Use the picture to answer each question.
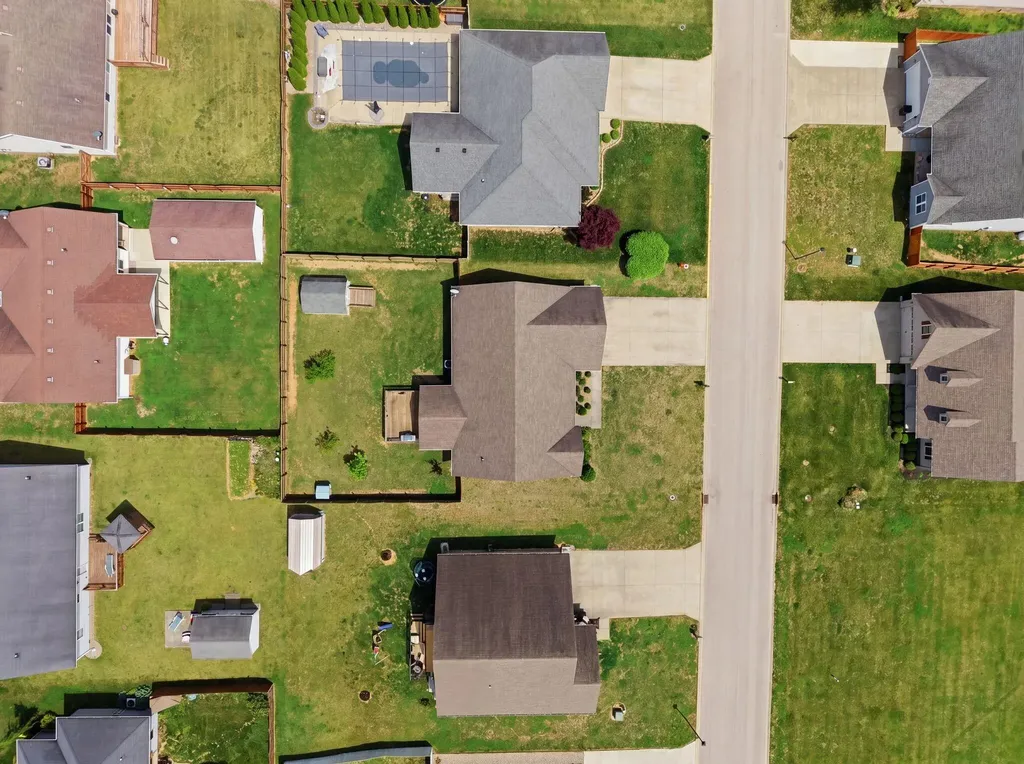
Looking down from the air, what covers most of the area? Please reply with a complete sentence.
Most of the picture is covered by grass.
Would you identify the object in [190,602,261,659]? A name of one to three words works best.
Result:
shed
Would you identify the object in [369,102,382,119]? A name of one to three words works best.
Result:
umbrella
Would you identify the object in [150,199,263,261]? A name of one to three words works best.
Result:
building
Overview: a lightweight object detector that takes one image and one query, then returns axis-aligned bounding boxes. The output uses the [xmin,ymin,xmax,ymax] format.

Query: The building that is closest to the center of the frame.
[418,282,607,482]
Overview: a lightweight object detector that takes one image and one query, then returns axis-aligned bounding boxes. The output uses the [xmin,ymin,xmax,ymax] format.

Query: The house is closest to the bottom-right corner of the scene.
[894,290,1024,482]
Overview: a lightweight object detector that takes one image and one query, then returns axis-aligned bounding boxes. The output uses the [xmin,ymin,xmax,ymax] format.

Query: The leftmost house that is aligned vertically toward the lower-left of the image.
[0,462,96,677]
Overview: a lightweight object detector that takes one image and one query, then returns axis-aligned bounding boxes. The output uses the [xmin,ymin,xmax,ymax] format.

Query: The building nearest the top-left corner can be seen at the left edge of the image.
[0,0,122,147]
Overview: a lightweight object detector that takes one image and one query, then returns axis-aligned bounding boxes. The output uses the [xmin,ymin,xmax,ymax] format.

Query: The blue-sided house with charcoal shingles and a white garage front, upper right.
[905,30,1024,229]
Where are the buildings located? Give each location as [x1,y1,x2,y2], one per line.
[190,602,261,659]
[289,516,325,575]
[150,199,263,261]
[894,290,1024,482]
[0,0,122,147]
[433,550,601,718]
[418,282,607,482]
[298,277,374,314]
[15,708,157,764]
[409,28,611,229]
[905,30,1024,229]
[0,206,166,403]
[0,462,96,677]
